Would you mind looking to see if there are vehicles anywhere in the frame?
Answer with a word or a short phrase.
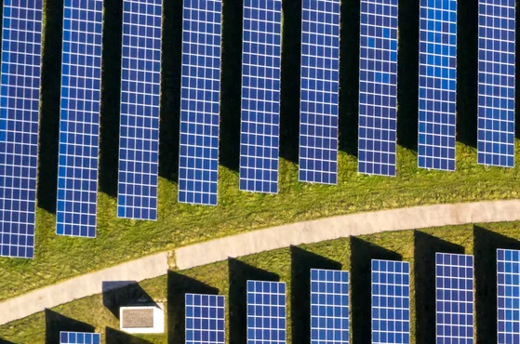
No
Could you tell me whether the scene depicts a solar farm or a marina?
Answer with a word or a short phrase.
solar farm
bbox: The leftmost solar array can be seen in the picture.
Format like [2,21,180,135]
[0,0,43,259]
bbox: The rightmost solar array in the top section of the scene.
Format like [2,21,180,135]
[477,0,515,169]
